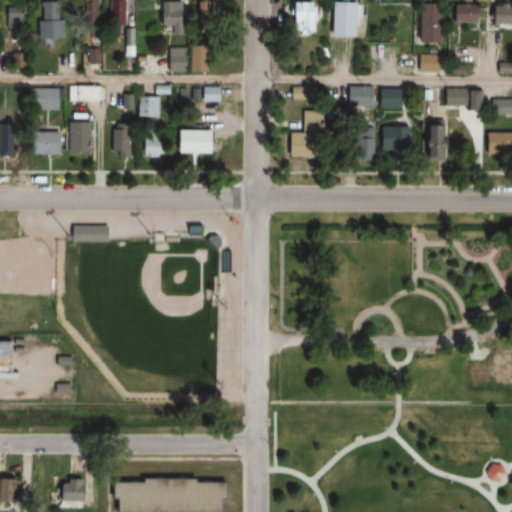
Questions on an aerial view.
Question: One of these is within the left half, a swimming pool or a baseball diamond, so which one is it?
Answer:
baseball diamond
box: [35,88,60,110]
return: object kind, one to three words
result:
building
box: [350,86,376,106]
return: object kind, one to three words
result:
building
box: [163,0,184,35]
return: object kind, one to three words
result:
house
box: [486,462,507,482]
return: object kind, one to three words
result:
gazebo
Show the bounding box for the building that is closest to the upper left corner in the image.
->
[8,7,24,38]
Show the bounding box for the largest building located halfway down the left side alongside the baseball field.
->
[73,226,109,242]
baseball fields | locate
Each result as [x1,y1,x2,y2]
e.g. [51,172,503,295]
[57,236,218,398]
